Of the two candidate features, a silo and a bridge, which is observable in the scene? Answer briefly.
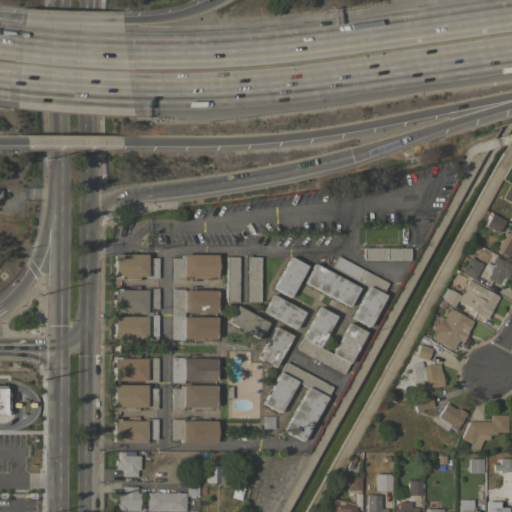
bridge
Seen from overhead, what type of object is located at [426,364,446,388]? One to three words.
house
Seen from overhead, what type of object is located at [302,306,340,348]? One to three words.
building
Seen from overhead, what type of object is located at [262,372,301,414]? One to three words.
building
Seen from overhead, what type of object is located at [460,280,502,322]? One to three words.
house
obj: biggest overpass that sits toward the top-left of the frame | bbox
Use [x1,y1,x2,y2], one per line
[17,6,131,118]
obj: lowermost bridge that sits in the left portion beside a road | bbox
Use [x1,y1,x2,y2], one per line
[28,135,124,152]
